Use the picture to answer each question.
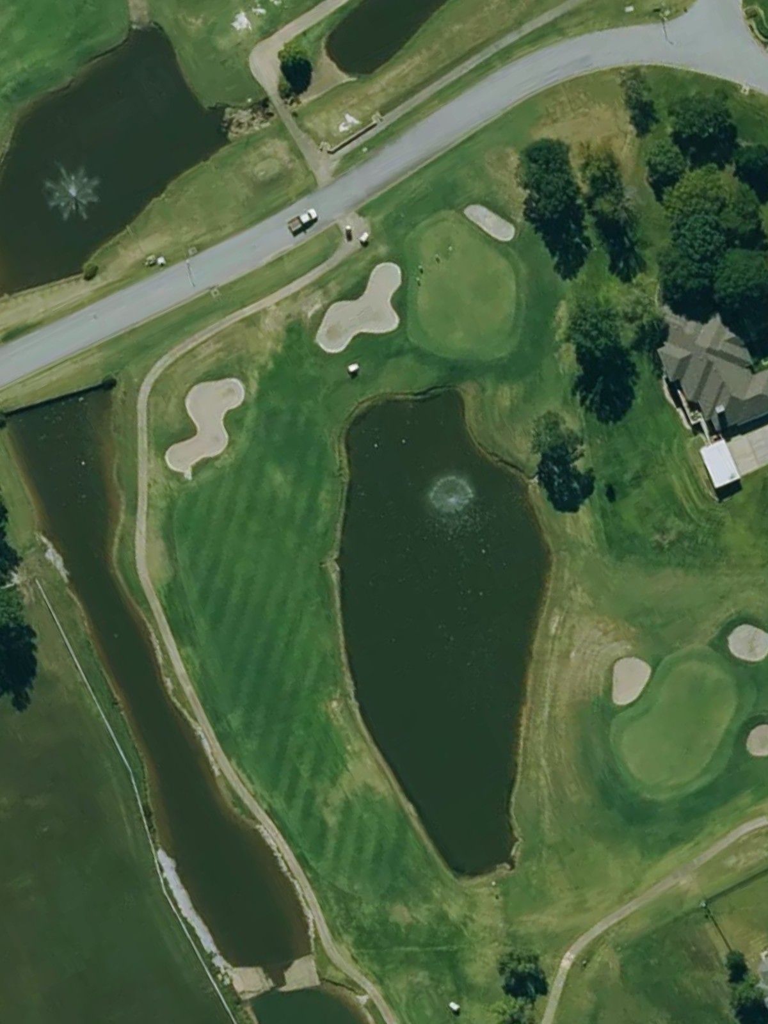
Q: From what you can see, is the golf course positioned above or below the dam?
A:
above it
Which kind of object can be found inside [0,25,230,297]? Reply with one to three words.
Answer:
pond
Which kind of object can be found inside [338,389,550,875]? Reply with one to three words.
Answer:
pond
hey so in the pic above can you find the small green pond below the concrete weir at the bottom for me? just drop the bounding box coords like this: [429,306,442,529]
[243,983,367,1024]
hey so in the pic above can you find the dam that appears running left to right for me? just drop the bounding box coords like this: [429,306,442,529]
[233,954,320,1000]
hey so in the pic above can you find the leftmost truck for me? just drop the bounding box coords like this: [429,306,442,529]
[287,210,318,233]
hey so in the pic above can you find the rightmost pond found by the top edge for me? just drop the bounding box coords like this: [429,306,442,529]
[326,0,448,76]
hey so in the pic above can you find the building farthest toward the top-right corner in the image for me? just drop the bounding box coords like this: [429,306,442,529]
[660,308,768,431]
